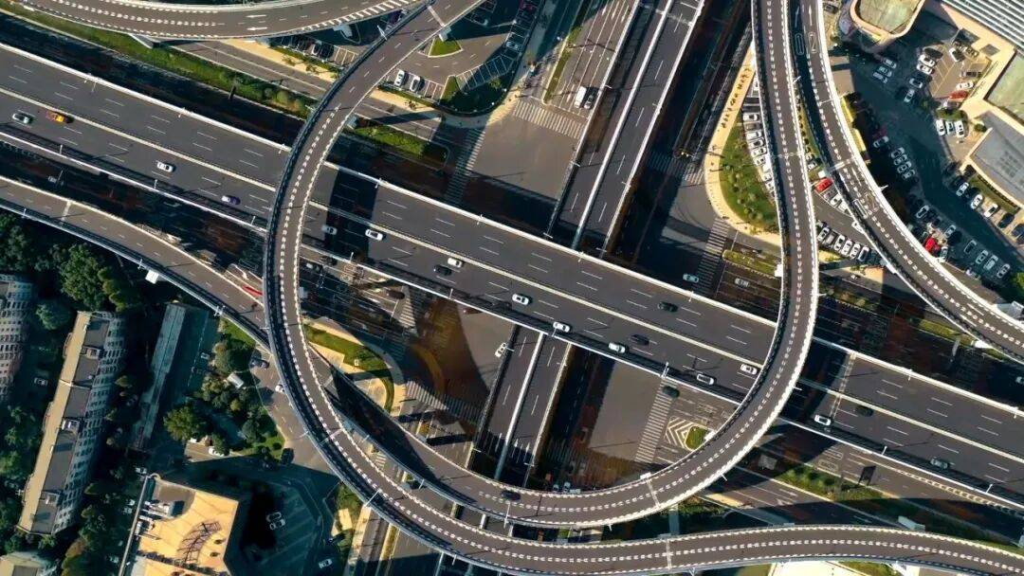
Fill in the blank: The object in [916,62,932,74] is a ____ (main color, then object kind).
white vehicle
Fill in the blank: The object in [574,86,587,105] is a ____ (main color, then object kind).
white vehicle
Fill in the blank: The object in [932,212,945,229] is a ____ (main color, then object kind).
black vehicle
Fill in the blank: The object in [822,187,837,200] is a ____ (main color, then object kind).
gray vehicle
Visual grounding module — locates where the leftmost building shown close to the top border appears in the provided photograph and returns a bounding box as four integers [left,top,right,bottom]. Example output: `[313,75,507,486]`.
[831,0,924,52]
